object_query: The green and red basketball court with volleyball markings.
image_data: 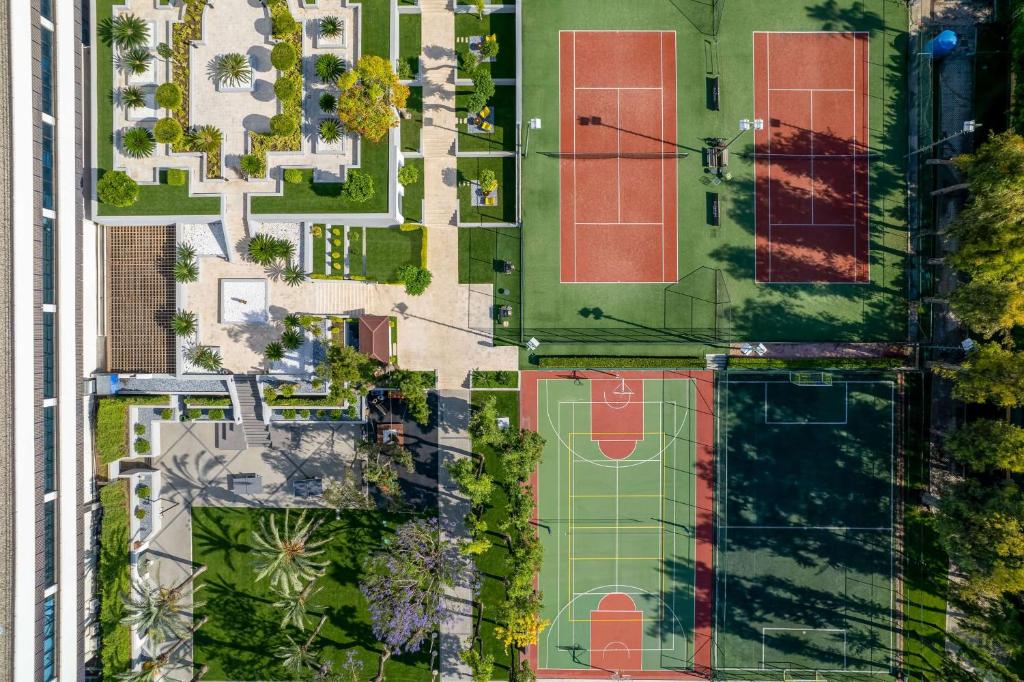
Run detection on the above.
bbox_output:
[537,379,696,670]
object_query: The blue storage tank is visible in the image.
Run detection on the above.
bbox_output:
[920,25,956,54]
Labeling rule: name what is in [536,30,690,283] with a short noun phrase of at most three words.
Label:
tennis court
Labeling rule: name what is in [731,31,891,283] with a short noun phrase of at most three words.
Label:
tennis court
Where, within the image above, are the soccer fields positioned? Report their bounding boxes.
[717,381,893,671]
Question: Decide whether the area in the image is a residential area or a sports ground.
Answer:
sports ground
